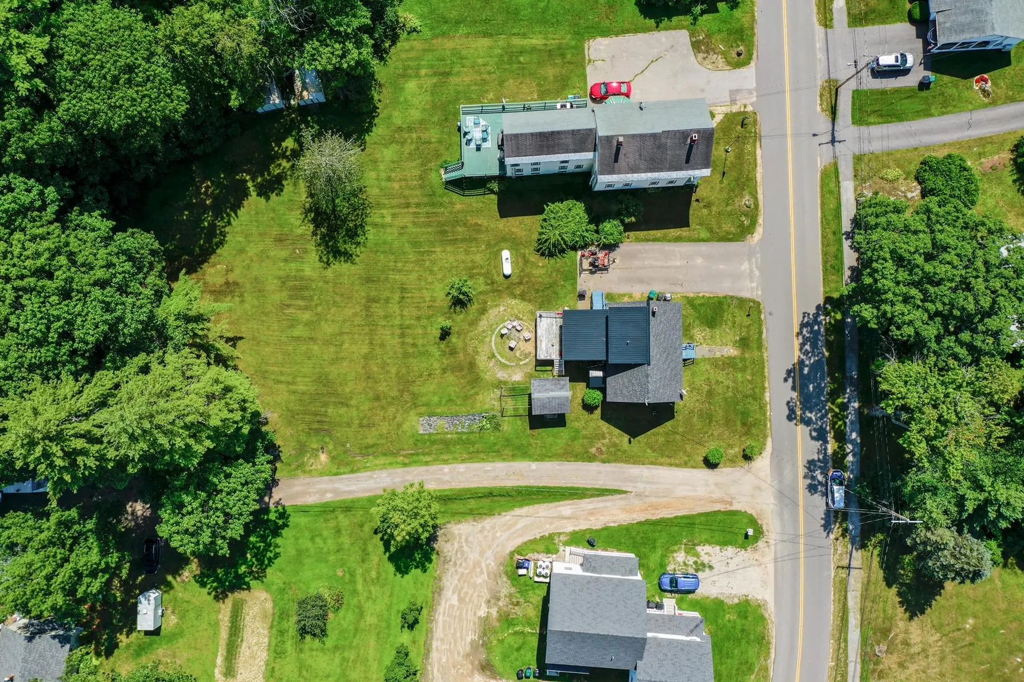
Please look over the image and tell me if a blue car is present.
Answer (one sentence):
Yes, there's a blue car down there.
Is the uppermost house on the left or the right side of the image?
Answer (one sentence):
The uppermost house appears in the right half of the scene.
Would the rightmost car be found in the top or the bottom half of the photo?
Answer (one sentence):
It is in the top half that the rightmost car appears.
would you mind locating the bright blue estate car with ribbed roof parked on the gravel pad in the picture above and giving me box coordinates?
[657,573,699,595]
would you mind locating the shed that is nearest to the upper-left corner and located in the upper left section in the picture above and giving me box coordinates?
[259,83,290,115]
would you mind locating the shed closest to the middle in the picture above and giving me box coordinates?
[530,377,571,420]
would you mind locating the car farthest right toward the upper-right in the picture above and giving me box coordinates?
[868,53,912,76]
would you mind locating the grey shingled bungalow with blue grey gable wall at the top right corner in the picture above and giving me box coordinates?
[912,0,1023,52]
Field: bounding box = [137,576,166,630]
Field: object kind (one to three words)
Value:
camper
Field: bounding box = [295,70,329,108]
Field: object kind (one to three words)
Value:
shed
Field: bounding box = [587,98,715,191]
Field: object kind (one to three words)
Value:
house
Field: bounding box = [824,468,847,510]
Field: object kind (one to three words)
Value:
car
